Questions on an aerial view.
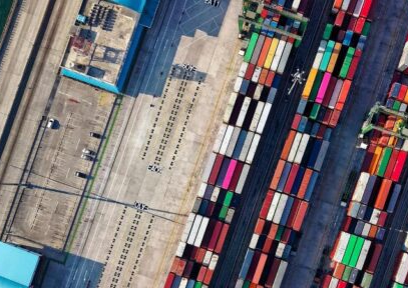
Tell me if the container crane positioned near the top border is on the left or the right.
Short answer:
right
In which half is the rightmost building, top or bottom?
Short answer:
top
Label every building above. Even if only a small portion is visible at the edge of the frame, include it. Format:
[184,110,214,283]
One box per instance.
[62,0,161,95]
[0,239,50,288]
